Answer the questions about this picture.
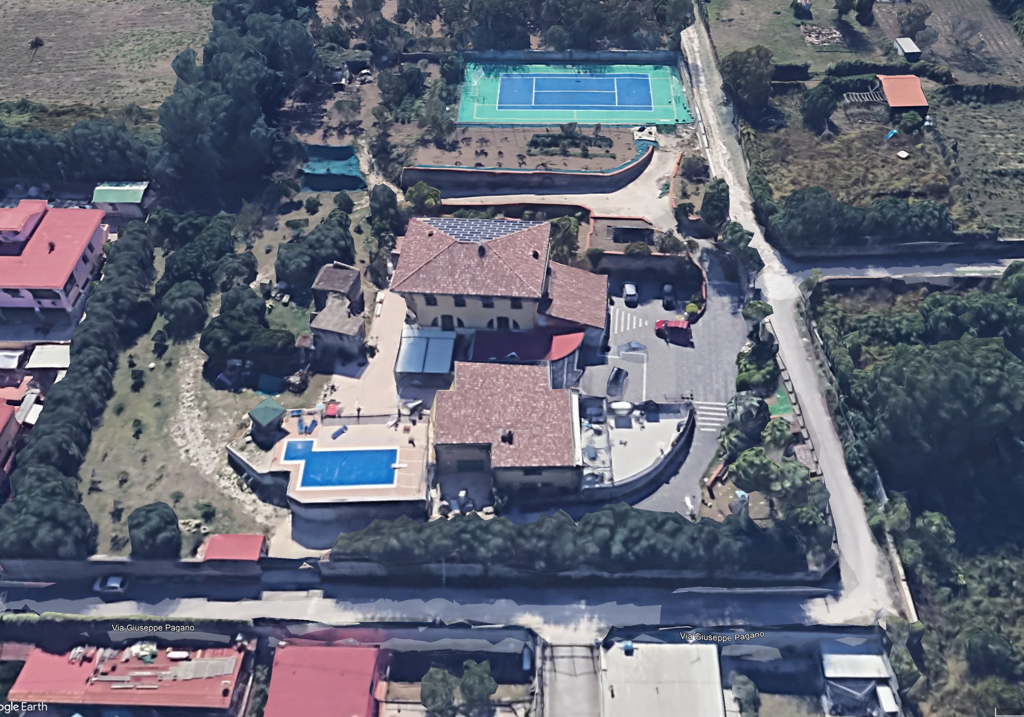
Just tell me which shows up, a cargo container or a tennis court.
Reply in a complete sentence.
Of the two, only a tennis court appears.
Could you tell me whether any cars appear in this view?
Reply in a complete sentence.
Yes, there's a car down there.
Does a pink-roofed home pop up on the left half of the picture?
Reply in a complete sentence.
Yes, a pink-roofed home shows up on the left half of the picture.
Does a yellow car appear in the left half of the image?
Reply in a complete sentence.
No, there is no yellow car in the left half of the image.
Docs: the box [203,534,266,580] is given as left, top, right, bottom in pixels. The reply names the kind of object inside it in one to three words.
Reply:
shed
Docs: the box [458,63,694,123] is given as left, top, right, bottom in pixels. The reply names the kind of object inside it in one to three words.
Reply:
tennis court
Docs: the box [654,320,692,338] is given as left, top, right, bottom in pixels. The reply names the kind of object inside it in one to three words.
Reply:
car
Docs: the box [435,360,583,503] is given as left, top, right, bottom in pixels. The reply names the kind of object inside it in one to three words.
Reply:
house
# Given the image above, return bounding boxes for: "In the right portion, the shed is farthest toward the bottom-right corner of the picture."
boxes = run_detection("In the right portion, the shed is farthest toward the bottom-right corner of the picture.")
[866,686,898,717]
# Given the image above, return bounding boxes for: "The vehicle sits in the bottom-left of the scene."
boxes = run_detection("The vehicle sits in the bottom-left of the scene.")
[91,574,133,595]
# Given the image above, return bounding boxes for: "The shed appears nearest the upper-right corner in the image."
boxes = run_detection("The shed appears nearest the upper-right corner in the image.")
[894,38,921,62]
